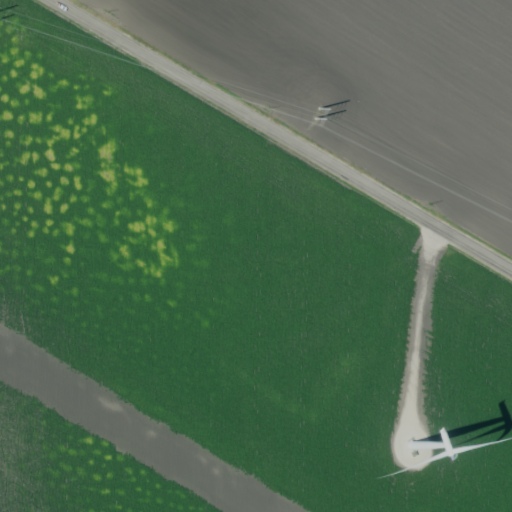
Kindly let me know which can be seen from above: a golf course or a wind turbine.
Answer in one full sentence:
This aerial view contains a wind turbine.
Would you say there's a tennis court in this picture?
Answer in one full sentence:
No, the photo shows no tennis court.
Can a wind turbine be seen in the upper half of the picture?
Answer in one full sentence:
No, in the upper half of the picture there is no wind turbine.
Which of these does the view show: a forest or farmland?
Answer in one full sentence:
What you see here is farmland.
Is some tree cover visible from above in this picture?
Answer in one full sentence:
No, no tree cover is visible.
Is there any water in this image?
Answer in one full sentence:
No, the scene doesn't show any water.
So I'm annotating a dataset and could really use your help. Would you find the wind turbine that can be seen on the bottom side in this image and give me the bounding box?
[380,428,512,480]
